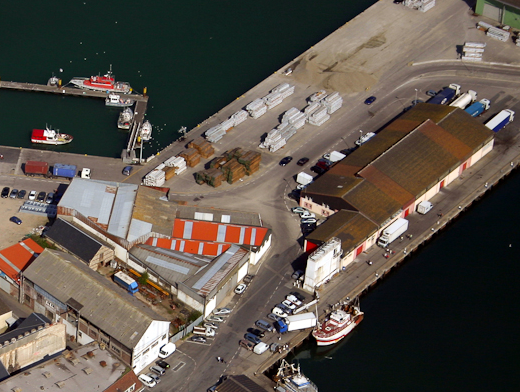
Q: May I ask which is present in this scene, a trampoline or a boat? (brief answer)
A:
boat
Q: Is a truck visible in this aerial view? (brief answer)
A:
Yes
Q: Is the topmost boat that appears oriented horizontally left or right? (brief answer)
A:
left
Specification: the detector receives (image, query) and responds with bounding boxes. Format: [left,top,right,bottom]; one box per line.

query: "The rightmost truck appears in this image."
[480,106,516,133]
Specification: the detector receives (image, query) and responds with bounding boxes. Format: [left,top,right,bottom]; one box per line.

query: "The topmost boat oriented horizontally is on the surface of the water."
[68,68,133,95]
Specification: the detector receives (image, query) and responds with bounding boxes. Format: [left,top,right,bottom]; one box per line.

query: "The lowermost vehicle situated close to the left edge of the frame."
[8,214,24,226]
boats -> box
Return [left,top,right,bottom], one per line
[311,305,369,349]
[273,364,320,392]
[142,119,151,143]
[31,126,75,145]
[119,108,132,130]
[105,94,132,107]
[68,68,133,95]
[49,75,57,88]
